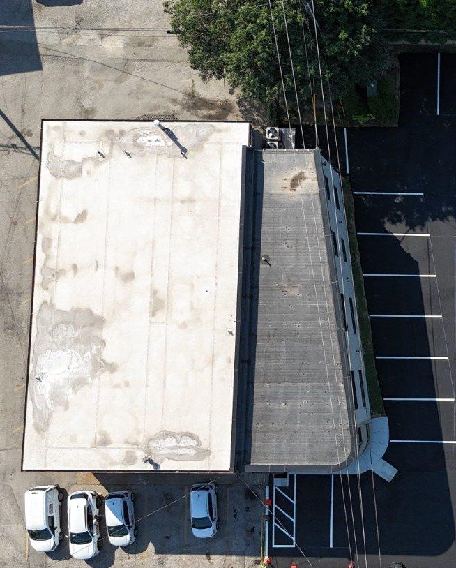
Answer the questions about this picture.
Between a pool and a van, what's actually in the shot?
van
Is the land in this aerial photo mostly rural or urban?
urban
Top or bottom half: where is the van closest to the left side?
bottom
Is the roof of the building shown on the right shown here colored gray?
Yes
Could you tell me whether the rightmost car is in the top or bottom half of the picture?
bottom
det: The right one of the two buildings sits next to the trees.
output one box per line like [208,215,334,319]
[242,149,372,473]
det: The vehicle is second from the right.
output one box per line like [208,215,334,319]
[106,488,141,548]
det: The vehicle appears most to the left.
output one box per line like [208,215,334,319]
[25,482,65,553]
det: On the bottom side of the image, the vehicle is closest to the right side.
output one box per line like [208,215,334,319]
[189,479,220,539]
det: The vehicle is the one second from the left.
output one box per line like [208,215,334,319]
[67,486,105,560]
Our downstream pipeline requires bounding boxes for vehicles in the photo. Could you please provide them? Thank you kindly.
[189,479,220,539]
[67,486,105,560]
[106,488,141,548]
[25,482,65,553]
